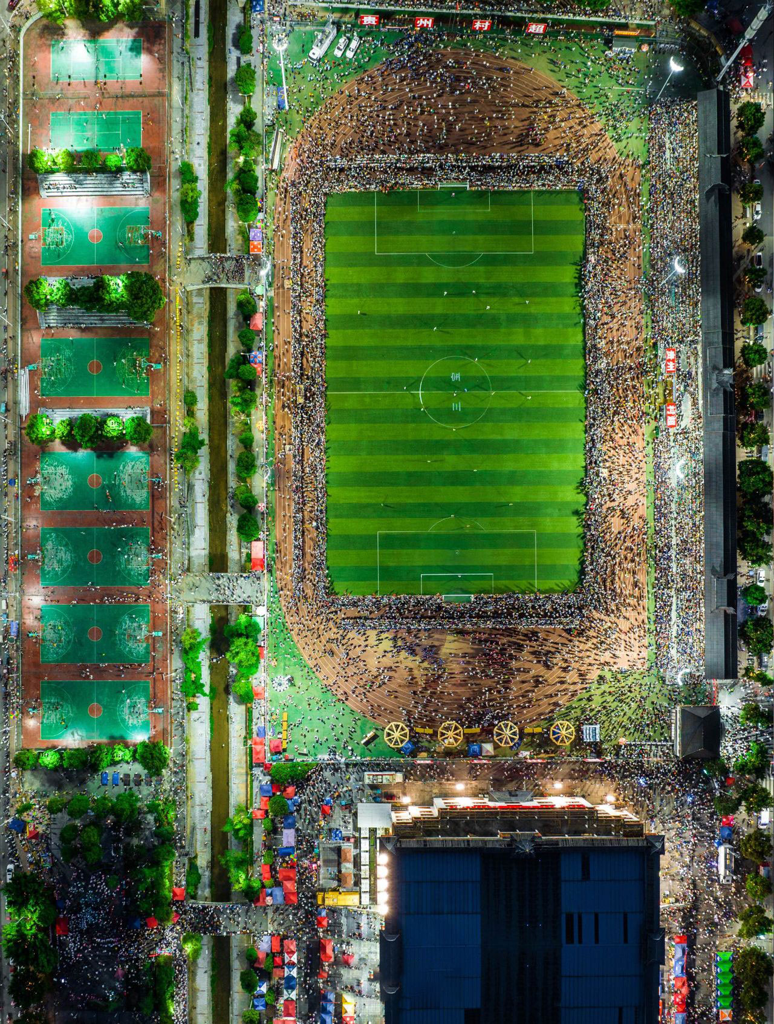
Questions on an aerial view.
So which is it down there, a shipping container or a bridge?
bridge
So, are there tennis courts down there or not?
Yes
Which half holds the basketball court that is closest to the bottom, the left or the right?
left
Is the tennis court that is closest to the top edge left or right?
left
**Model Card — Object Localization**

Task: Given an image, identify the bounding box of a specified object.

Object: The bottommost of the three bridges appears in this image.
[184,902,245,937]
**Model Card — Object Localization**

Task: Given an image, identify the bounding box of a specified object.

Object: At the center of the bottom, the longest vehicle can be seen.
[317,892,359,909]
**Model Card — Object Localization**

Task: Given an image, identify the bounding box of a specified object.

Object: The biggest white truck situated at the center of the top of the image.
[308,9,339,65]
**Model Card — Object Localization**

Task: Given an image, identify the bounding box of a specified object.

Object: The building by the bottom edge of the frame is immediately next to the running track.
[379,798,665,1024]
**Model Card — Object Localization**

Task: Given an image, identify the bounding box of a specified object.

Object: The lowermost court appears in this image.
[40,680,150,739]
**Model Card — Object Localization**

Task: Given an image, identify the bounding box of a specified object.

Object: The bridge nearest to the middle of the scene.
[184,572,245,604]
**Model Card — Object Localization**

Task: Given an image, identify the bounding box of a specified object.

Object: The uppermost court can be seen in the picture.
[50,33,142,83]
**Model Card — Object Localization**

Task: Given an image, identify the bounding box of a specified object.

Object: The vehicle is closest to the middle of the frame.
[360,733,379,751]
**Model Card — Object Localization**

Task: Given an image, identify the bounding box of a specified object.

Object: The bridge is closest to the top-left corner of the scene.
[184,254,245,290]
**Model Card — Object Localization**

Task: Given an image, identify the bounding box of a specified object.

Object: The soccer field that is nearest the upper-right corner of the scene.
[325,190,587,595]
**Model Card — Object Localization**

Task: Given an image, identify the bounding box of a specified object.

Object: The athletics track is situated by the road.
[275,50,647,728]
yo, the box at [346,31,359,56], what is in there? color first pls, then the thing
white vehicle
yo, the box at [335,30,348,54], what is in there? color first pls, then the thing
white vehicle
